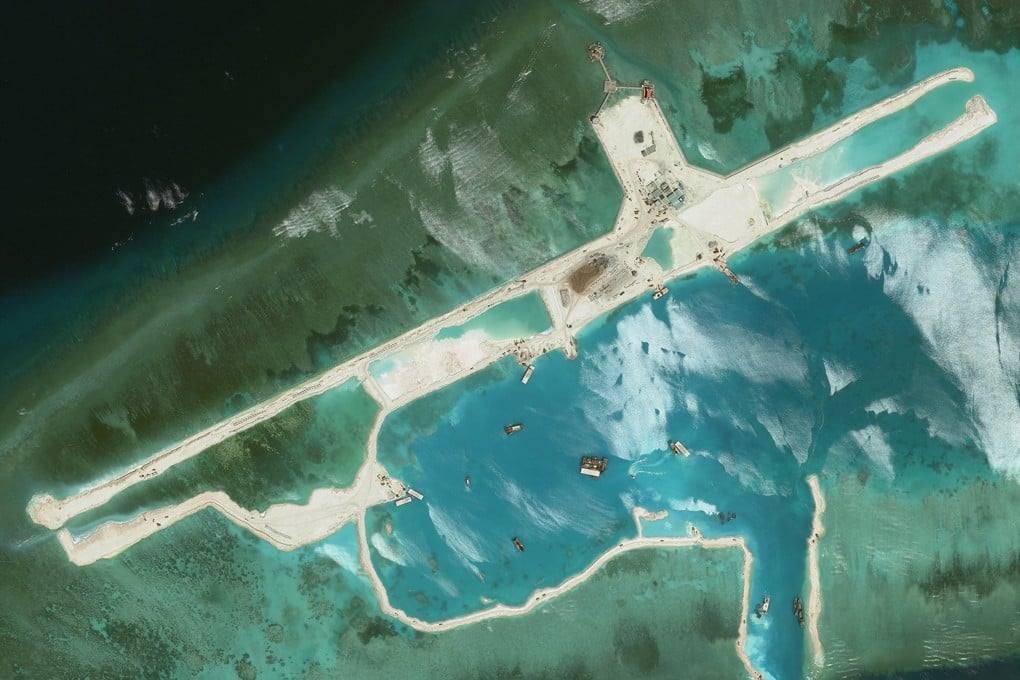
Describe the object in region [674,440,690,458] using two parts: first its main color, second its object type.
white ship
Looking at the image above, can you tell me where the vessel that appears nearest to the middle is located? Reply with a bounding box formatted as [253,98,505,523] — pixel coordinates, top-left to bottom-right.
[521,363,534,383]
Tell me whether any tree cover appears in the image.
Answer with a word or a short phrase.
No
